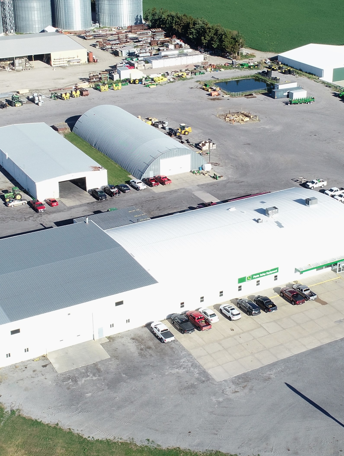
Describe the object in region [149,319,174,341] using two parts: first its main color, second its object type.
white truck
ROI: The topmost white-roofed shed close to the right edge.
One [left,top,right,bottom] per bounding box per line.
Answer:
[278,43,344,82]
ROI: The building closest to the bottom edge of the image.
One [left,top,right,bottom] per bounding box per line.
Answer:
[0,185,344,366]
